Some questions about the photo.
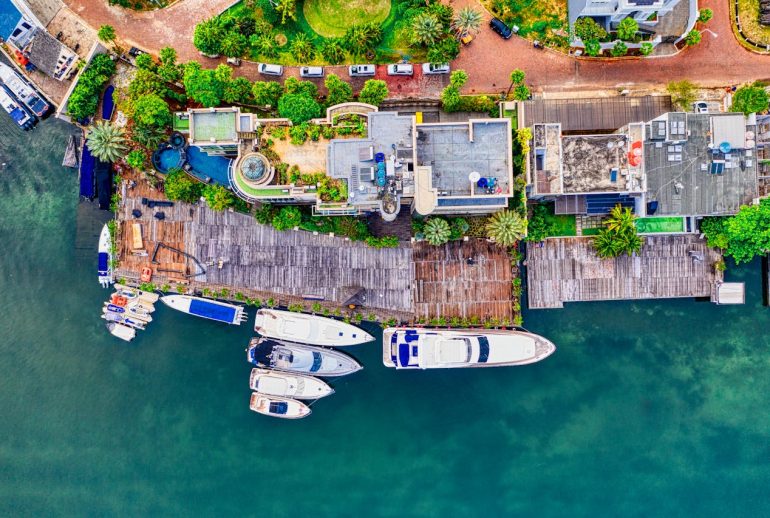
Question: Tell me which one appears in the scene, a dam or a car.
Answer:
car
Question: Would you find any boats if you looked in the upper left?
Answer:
Yes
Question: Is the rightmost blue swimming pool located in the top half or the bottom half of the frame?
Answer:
top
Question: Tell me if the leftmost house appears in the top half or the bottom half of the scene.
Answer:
top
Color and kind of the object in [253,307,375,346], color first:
white boat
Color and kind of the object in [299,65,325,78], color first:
white vehicle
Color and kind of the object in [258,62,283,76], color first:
white vehicle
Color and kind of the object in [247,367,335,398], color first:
white boat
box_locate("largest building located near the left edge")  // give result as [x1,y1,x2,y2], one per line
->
[8,17,85,85]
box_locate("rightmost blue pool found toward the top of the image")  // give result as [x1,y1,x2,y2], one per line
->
[184,144,235,189]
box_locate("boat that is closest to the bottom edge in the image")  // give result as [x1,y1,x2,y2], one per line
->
[248,391,312,417]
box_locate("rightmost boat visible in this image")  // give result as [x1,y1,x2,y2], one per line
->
[383,328,557,370]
